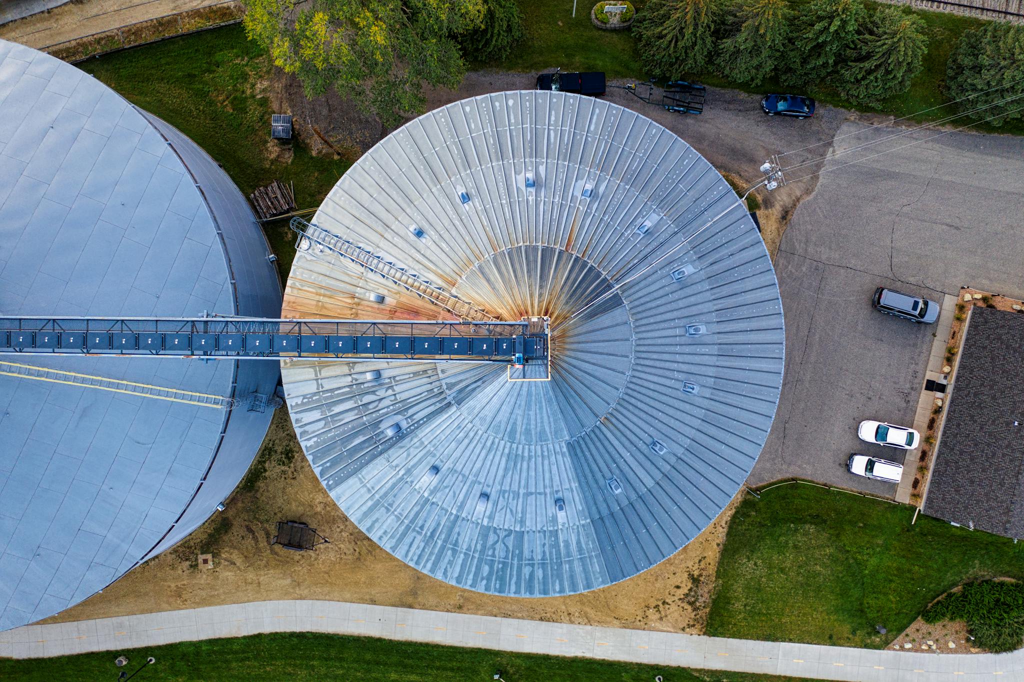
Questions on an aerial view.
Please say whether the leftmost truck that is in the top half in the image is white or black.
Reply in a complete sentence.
The leftmost truck that is in the top half looks black in the image.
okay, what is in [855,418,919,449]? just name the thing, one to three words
car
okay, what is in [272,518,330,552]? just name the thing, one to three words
trailer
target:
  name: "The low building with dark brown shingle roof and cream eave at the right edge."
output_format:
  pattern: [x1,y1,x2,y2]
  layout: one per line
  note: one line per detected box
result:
[912,305,1024,536]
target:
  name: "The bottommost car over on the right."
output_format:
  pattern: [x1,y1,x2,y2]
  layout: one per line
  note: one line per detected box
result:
[844,451,906,484]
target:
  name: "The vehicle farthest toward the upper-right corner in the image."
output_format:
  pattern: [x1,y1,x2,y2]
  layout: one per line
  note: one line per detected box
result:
[759,91,816,121]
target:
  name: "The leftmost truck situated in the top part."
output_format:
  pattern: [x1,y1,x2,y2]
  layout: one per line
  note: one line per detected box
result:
[536,61,607,98]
